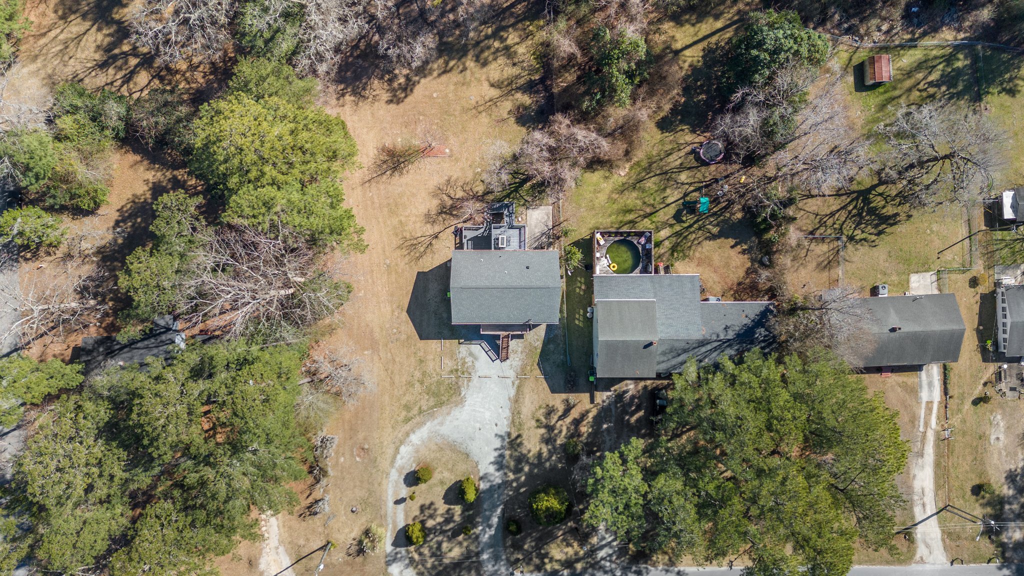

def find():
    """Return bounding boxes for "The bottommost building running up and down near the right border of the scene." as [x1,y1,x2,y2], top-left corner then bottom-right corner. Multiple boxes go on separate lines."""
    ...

[992,284,1024,356]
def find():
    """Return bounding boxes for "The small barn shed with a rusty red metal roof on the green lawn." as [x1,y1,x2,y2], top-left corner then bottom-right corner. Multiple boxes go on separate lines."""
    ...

[859,54,890,86]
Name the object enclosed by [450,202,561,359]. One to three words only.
house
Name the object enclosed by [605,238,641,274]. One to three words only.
swimming pool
